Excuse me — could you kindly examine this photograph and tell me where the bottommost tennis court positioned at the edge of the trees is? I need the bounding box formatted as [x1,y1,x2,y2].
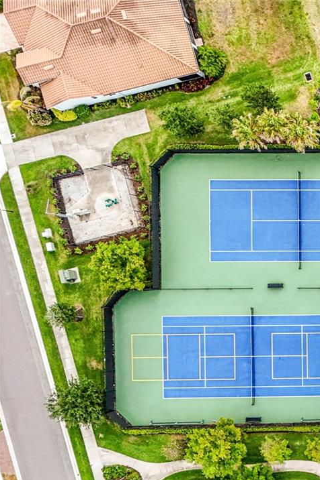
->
[114,289,320,427]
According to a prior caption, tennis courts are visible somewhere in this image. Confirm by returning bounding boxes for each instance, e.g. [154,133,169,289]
[114,289,320,427]
[161,154,320,289]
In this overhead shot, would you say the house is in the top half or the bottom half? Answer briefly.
top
